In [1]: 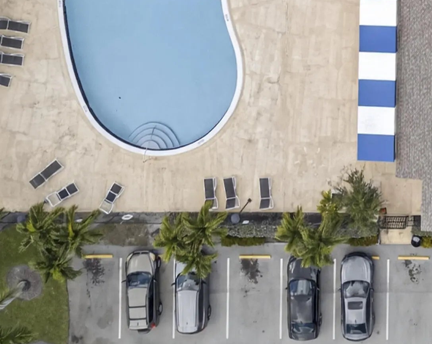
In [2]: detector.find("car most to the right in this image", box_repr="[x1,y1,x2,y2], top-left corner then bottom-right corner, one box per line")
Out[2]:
[337,251,376,342]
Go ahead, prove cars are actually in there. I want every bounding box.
[285,257,323,343]
[337,251,376,342]
[122,250,165,334]
[171,252,214,338]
